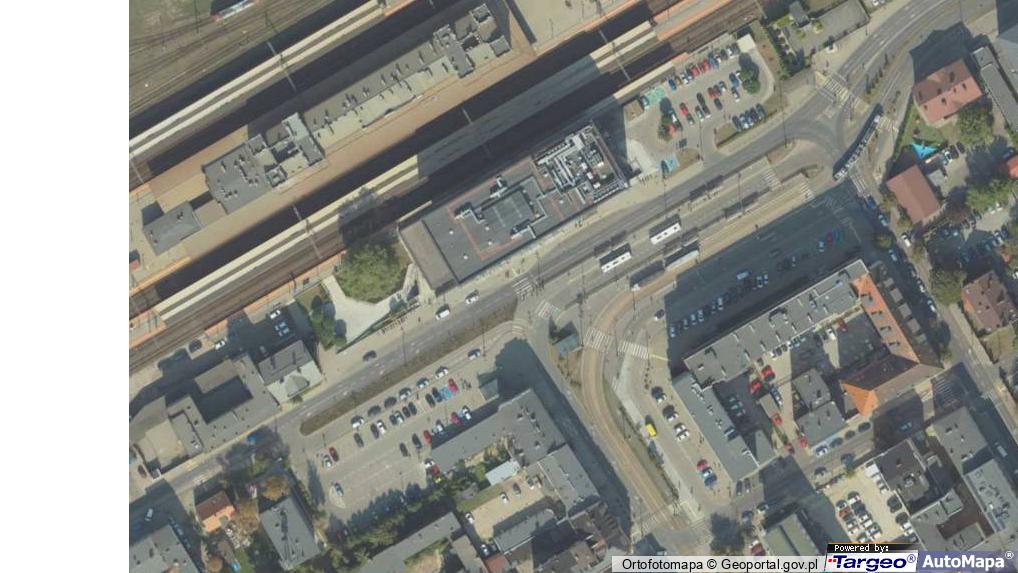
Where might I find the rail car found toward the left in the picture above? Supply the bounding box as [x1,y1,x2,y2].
[214,0,259,22]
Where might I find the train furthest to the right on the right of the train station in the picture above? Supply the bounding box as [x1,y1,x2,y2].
[836,116,882,175]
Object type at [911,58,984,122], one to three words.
house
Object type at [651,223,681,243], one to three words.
vehicle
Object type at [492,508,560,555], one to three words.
shed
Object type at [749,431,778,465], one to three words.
building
